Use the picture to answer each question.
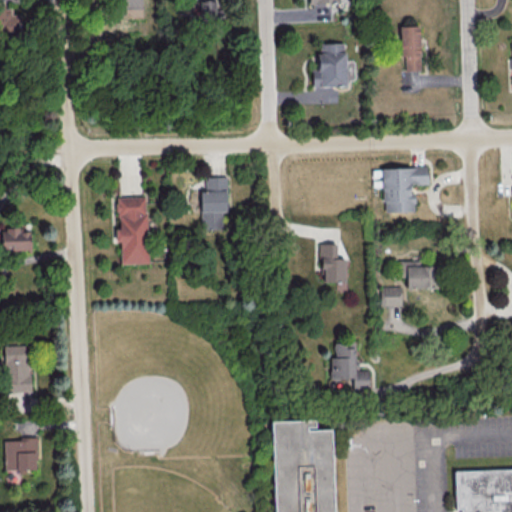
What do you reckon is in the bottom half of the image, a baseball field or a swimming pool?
baseball field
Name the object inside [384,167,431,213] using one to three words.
house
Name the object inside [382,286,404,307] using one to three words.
building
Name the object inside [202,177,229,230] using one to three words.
house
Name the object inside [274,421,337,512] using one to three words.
building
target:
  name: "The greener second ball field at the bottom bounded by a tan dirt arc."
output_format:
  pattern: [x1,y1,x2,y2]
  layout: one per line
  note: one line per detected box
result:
[112,465,226,512]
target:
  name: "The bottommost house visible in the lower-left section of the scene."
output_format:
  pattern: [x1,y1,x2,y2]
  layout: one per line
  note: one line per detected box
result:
[6,438,38,474]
